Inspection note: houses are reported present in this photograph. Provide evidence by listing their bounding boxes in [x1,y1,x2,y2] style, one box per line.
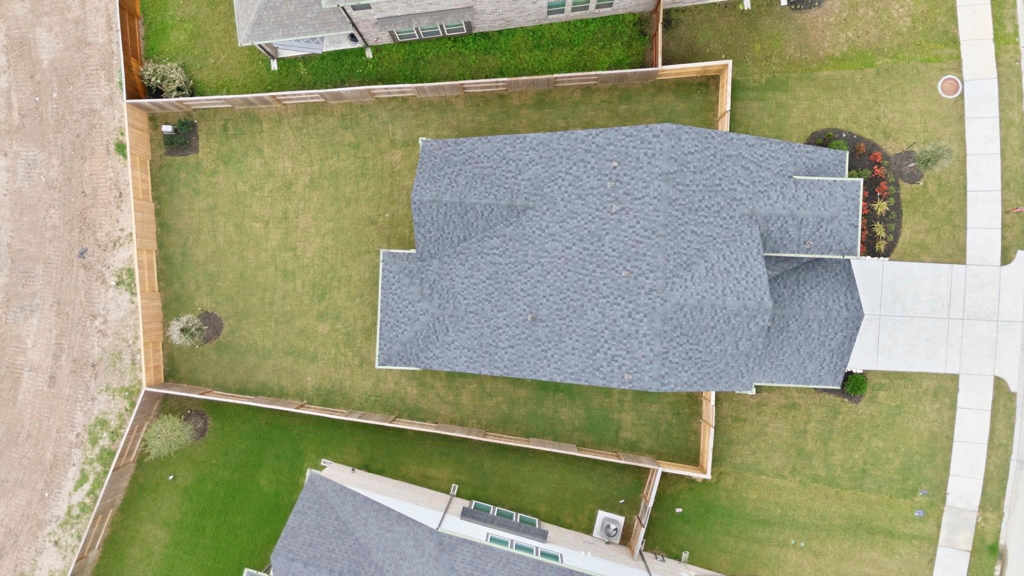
[230,0,726,63]
[240,463,723,576]
[374,123,866,395]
